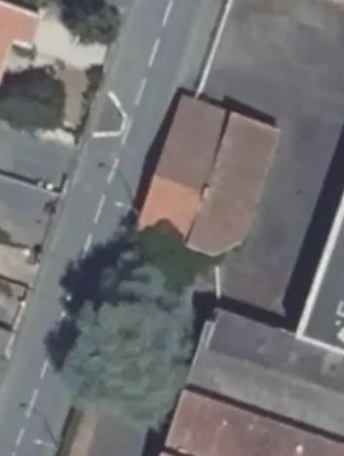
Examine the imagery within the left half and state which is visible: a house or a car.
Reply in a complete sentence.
The one visible within the left half is a house.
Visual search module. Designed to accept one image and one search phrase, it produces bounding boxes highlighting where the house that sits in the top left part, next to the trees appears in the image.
[0,2,40,84]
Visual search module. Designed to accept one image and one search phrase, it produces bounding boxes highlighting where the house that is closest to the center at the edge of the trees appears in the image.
[139,96,280,256]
